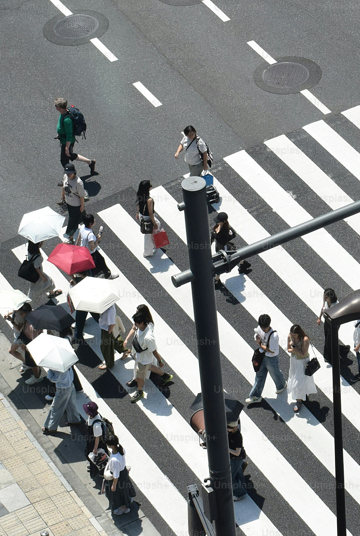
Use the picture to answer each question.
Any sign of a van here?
No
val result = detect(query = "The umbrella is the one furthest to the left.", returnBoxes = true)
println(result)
[0,284,34,326]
